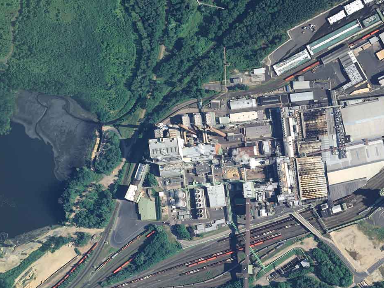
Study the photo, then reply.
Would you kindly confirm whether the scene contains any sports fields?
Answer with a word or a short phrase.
No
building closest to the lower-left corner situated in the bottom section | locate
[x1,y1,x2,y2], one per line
[138,197,159,221]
